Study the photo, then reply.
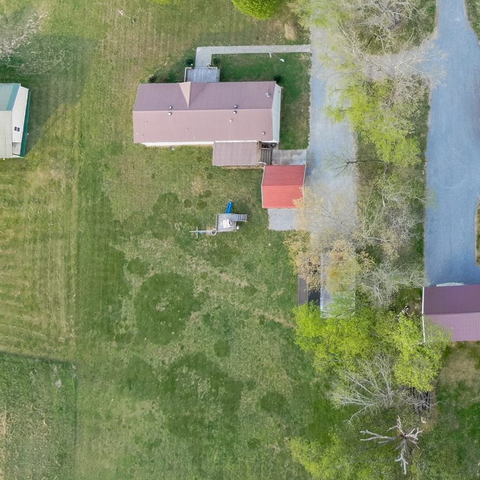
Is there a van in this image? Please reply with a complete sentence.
No, there is no van in the image.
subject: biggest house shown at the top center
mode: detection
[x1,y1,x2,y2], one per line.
[132,63,280,166]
